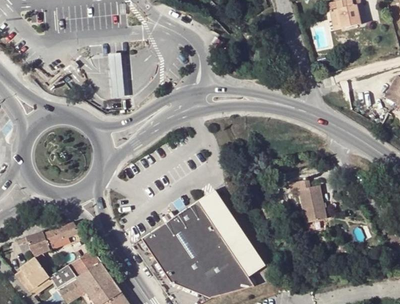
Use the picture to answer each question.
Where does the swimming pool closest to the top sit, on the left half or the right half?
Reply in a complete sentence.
The swimming pool closest to the top is on the right side of the image.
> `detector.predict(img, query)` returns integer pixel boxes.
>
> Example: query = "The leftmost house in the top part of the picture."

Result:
[328,0,362,31]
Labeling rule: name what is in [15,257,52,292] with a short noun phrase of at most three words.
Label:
house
